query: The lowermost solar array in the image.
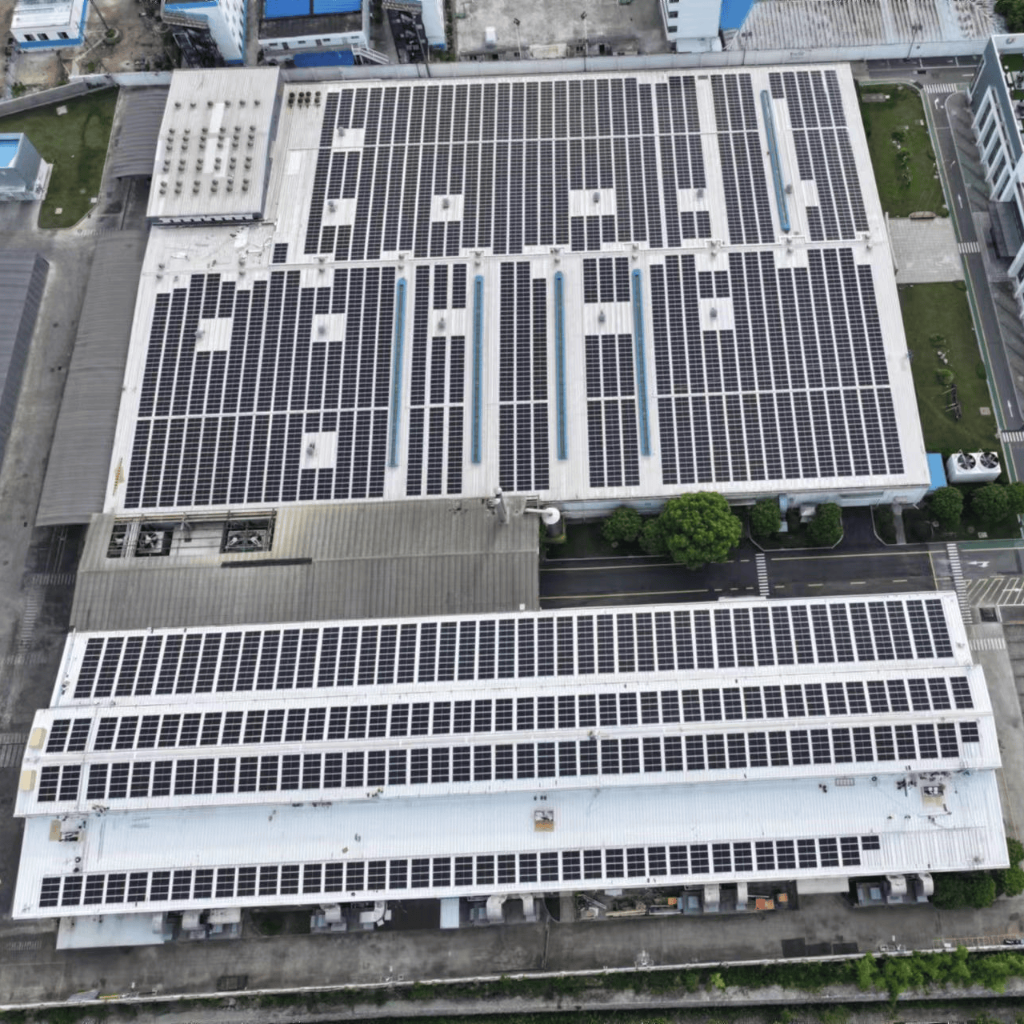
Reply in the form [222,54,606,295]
[40,836,901,906]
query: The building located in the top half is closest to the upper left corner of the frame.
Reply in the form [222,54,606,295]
[9,0,95,49]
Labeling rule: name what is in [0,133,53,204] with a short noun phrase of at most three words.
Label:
building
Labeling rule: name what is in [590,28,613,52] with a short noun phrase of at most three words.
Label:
shed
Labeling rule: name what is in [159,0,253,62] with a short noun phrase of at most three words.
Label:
building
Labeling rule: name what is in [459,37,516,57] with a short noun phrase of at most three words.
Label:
shed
